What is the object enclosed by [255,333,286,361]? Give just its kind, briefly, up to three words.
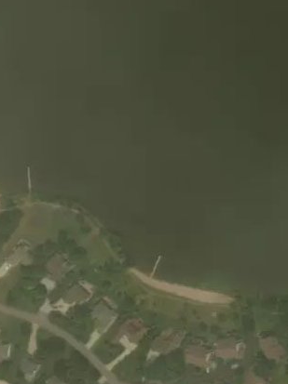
house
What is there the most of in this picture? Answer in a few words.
water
